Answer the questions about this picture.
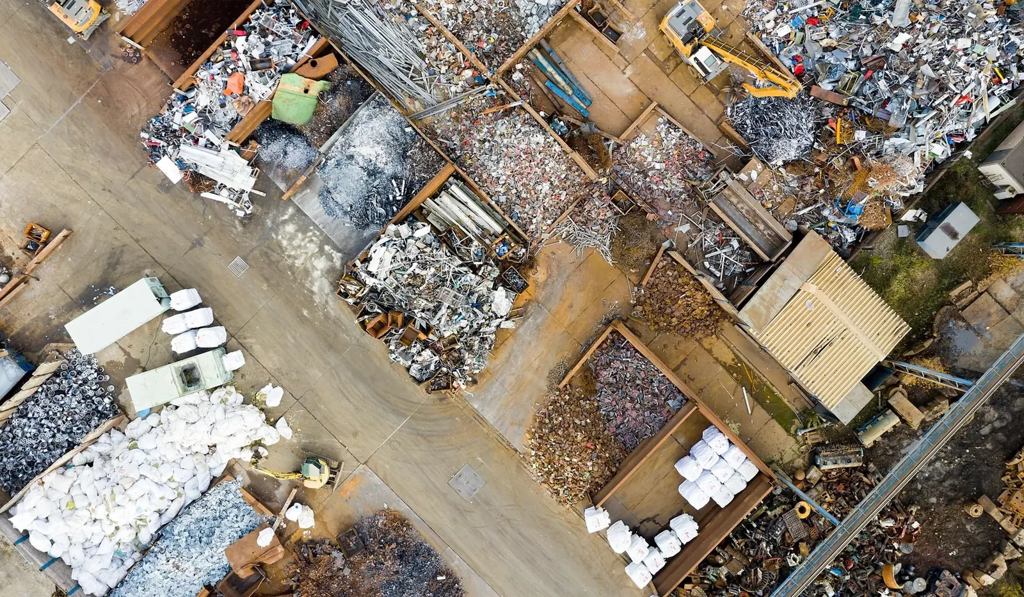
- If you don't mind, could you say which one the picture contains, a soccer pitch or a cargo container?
cargo container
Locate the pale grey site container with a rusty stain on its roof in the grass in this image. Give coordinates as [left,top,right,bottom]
[893,201,981,262]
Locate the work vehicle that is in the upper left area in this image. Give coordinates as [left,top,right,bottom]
[35,0,121,42]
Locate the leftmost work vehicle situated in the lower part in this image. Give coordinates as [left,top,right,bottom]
[257,448,352,495]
